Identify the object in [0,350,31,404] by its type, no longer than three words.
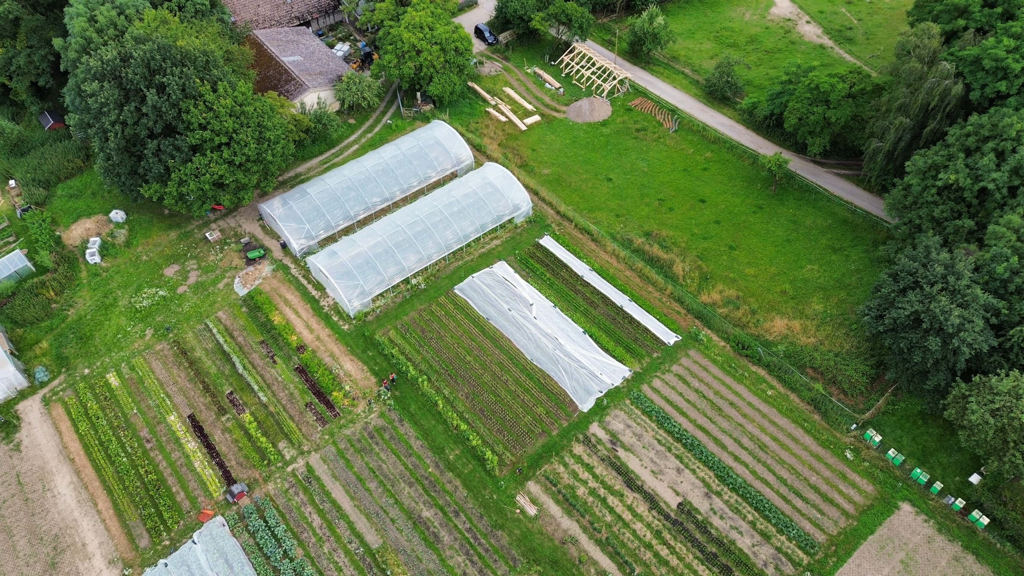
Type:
greenhouse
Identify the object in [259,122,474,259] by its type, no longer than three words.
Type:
greenhouse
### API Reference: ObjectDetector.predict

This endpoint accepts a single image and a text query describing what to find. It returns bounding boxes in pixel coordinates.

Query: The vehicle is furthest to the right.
[473,23,498,45]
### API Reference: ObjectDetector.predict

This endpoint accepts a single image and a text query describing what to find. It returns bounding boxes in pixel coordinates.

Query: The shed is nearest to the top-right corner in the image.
[554,41,642,103]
